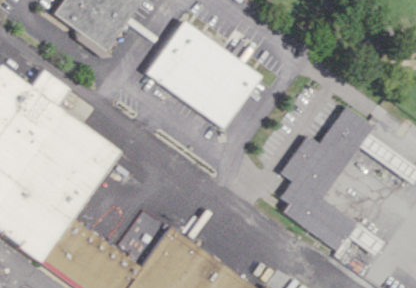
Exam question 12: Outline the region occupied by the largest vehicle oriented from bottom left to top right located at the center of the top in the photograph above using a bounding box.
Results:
[240,44,255,62]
